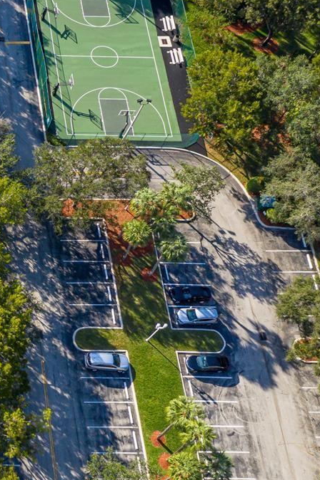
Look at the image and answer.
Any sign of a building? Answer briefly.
No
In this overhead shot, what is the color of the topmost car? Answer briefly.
black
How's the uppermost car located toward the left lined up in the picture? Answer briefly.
from side to side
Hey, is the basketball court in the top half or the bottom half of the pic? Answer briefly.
top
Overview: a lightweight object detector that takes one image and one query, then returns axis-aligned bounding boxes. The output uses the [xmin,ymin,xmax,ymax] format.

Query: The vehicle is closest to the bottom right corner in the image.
[185,354,232,375]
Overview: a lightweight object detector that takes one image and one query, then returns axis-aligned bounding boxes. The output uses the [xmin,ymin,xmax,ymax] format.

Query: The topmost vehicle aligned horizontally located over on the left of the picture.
[86,351,130,372]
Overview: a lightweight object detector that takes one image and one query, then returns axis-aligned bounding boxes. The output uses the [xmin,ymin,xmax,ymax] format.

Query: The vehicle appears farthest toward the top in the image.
[169,286,216,306]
